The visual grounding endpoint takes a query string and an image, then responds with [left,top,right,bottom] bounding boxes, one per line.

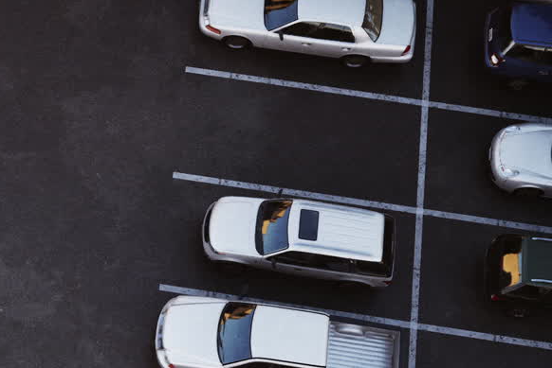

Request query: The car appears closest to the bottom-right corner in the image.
[480,235,552,316]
